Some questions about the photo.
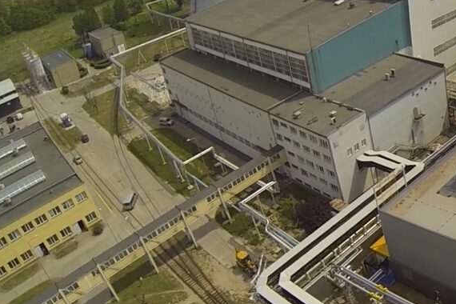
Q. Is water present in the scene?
No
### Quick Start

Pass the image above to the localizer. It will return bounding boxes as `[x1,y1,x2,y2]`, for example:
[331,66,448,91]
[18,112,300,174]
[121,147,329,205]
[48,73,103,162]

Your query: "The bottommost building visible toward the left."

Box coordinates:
[0,120,102,282]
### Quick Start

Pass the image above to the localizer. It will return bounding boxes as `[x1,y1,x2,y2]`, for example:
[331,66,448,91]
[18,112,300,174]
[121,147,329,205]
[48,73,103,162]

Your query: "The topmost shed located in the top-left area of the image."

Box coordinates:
[87,25,129,57]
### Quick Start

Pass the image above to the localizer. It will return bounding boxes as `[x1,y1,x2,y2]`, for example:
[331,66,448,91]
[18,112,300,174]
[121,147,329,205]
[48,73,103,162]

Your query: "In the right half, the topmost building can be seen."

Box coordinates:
[154,0,456,202]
